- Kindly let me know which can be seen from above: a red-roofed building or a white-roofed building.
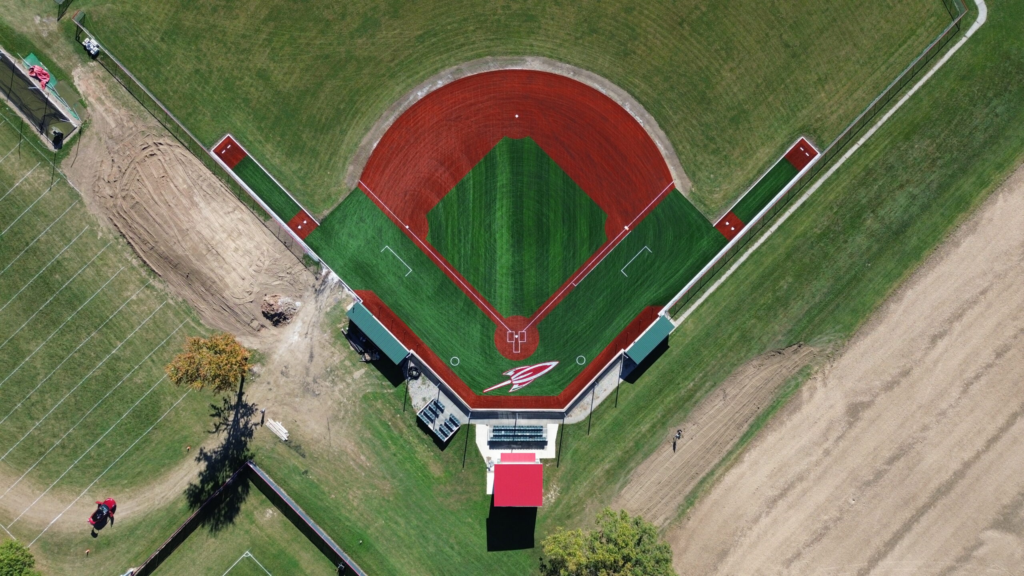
red-roofed building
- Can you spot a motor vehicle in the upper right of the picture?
No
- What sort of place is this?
sports ground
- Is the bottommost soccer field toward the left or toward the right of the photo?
left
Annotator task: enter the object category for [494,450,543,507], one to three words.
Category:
building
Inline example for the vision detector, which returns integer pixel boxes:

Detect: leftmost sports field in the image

[0,112,231,549]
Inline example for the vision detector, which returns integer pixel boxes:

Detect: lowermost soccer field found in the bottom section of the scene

[135,465,358,576]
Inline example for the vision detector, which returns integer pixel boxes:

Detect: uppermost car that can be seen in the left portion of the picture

[89,498,115,525]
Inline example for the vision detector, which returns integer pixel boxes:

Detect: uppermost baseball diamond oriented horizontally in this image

[78,0,962,409]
